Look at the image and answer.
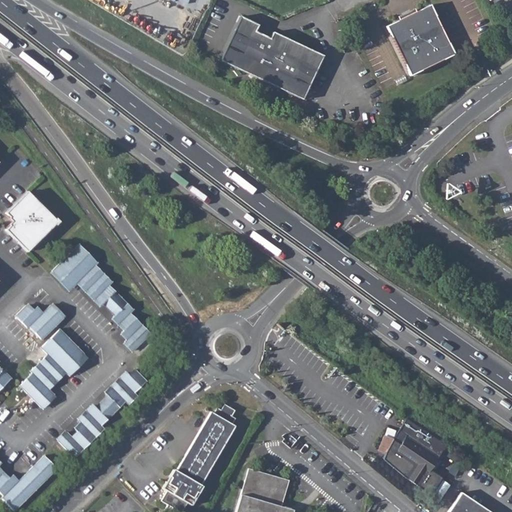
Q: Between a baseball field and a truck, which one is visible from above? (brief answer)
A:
truck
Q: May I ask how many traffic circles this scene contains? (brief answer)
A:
2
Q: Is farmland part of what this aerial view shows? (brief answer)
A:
No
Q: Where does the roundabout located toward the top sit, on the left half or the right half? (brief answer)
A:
right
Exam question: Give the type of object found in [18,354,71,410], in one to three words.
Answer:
building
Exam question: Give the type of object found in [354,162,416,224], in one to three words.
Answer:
roundabout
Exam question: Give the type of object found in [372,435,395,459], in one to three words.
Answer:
house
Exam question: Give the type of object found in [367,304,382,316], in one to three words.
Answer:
vehicle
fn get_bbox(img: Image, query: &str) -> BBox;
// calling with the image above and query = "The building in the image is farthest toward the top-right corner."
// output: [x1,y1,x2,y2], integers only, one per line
[380,4,456,78]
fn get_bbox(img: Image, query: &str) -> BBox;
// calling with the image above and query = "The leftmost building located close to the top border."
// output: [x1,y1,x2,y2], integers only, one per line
[218,16,325,101]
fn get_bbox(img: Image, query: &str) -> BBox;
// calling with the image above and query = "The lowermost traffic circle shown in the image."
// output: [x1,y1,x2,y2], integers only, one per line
[196,314,258,376]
